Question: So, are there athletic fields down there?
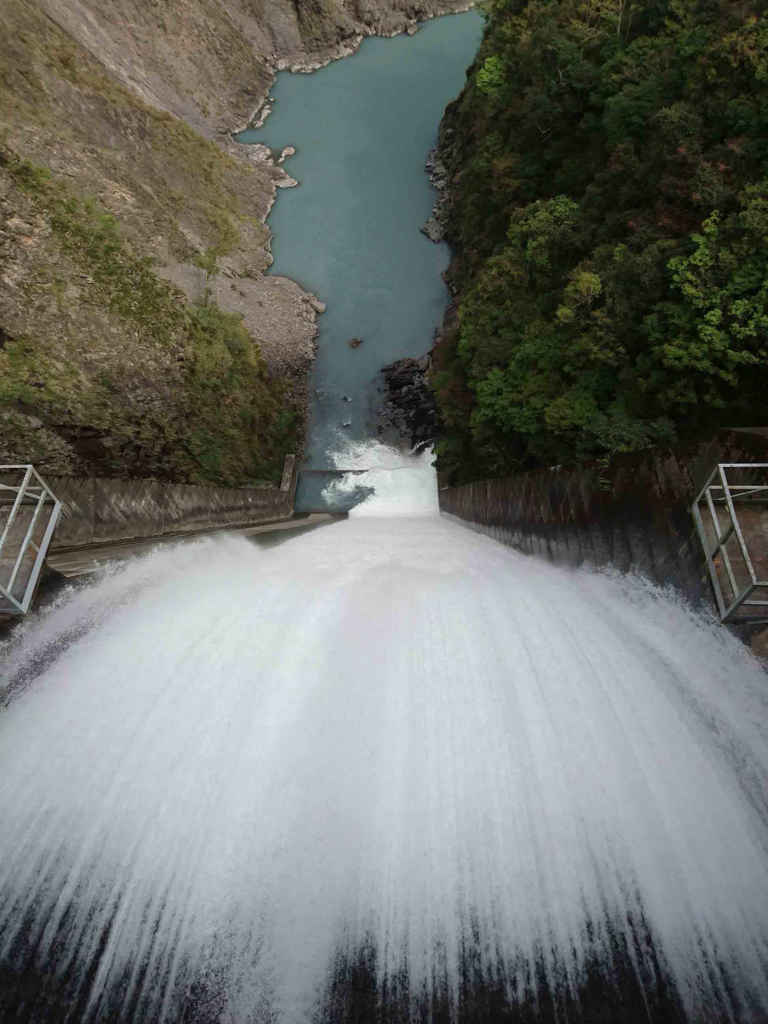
No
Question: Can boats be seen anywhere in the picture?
No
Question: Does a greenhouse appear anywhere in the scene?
No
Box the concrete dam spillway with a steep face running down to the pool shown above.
[0,512,347,690]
